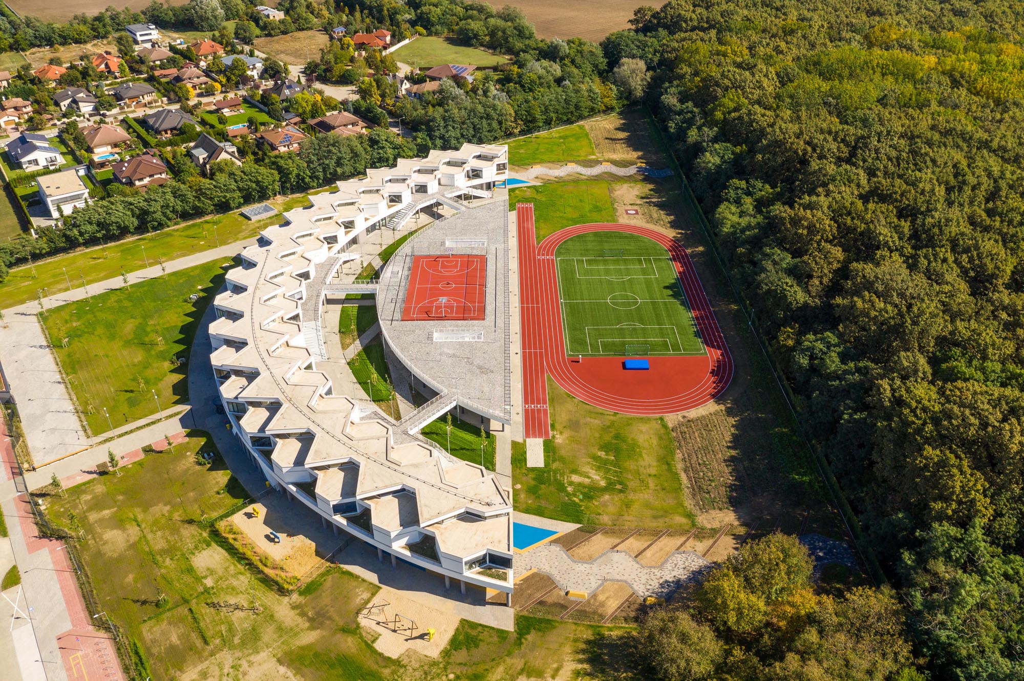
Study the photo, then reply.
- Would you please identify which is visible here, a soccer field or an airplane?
soccer field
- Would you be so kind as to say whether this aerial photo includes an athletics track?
Yes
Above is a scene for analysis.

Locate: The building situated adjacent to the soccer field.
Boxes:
[209,143,515,606]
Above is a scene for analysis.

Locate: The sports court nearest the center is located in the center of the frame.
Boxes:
[401,255,487,321]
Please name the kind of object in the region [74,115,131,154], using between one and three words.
house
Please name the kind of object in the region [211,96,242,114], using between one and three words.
building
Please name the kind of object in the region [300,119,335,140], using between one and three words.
shed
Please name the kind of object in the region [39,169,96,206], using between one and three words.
house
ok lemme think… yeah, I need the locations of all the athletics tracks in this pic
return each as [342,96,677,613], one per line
[537,225,734,416]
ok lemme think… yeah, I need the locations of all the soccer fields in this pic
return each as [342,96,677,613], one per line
[555,232,708,356]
